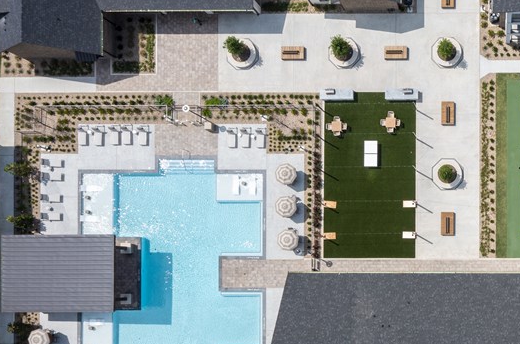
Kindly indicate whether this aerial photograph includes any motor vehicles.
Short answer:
No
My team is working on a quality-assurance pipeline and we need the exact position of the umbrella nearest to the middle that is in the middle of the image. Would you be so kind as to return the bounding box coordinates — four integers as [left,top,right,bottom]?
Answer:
[276,164,297,184]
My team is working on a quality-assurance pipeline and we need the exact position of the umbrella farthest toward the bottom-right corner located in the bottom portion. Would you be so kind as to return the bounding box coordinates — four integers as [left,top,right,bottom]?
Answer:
[277,230,299,250]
